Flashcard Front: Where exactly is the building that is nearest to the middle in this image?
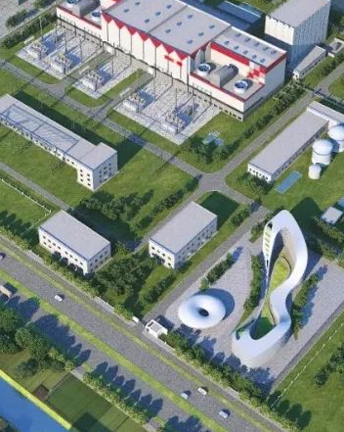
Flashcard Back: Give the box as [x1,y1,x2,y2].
[149,204,217,266]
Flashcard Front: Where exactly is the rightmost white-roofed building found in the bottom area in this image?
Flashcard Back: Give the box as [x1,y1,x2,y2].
[229,211,308,367]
